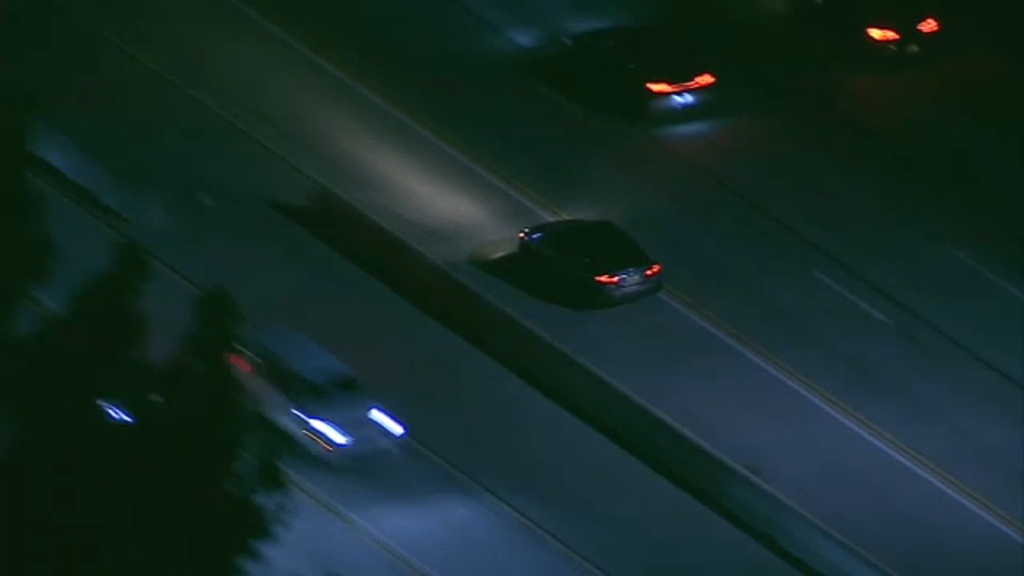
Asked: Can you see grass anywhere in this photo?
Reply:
No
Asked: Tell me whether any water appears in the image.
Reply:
No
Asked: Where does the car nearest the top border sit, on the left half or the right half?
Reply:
right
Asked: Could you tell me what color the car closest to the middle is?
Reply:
black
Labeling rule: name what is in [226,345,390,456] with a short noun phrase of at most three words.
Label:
car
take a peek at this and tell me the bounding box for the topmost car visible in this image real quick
[783,0,946,67]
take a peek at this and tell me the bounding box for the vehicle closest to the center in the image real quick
[501,218,665,313]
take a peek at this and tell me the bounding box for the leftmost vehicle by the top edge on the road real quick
[558,22,719,119]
